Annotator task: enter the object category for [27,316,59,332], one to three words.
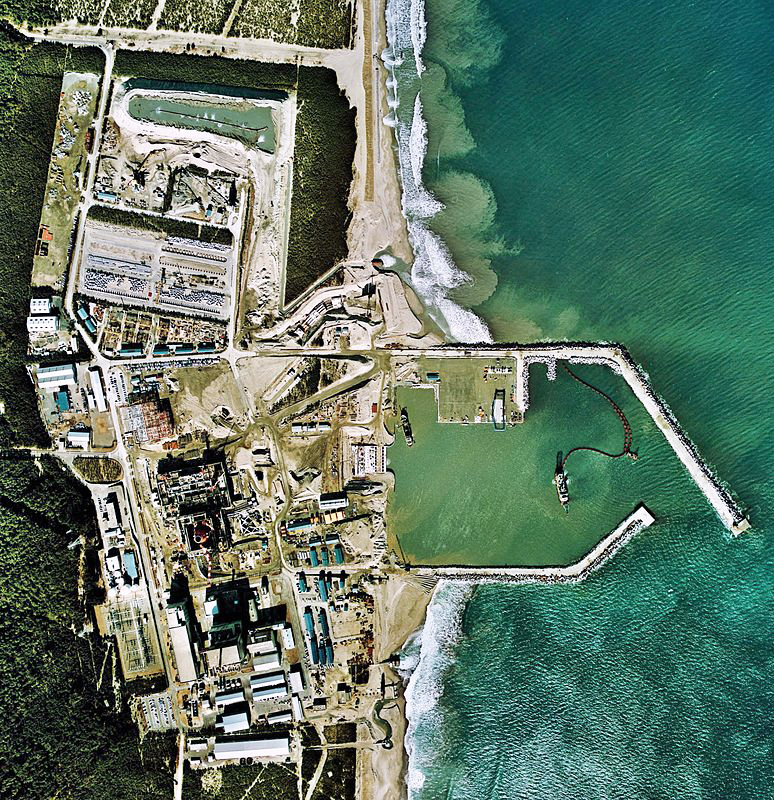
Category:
building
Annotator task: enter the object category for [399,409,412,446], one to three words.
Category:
ship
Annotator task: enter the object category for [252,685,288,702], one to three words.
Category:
shed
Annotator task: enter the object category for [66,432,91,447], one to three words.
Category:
building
